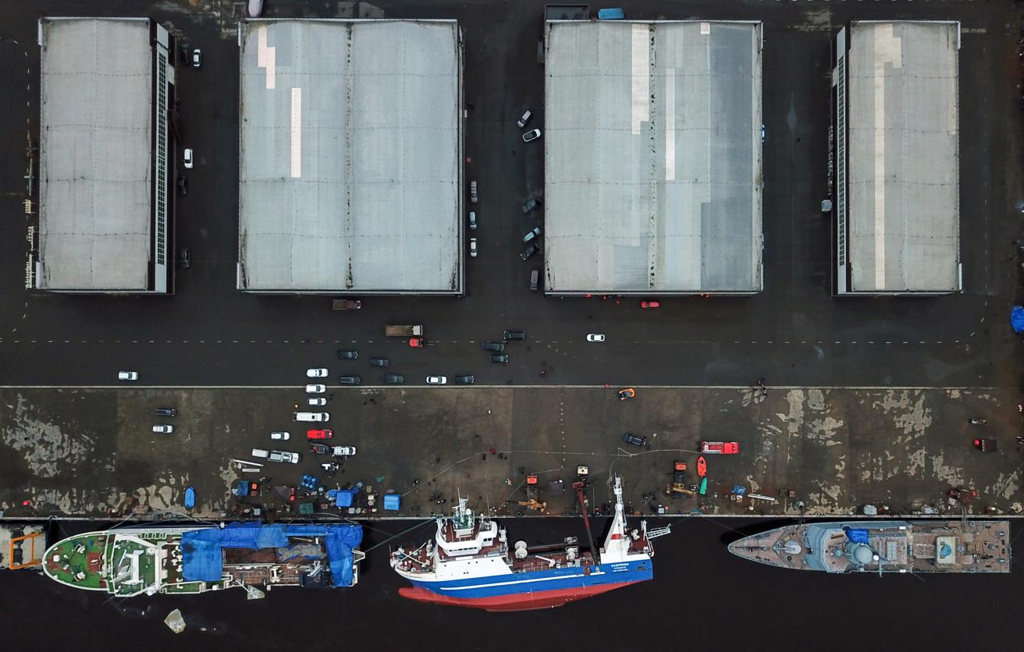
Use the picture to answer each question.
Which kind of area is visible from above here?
industrial area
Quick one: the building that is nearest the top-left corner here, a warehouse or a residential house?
warehouse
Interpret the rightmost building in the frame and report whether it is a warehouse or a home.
warehouse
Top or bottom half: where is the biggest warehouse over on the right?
top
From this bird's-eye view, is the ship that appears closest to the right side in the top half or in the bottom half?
bottom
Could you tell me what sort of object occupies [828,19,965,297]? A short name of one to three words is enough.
warehouse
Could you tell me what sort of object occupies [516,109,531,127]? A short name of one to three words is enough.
car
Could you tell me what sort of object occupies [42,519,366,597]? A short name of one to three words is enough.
vessel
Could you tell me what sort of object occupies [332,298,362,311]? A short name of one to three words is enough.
vehicle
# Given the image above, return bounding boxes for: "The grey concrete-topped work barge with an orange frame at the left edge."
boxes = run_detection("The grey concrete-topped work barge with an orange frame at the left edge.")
[0,524,48,570]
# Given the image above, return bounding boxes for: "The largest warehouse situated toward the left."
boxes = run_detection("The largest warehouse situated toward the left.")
[234,17,466,297]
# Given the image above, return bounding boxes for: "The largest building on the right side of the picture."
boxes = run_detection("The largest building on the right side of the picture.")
[541,19,766,297]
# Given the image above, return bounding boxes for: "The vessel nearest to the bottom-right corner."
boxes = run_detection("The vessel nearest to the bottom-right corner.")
[729,520,1012,578]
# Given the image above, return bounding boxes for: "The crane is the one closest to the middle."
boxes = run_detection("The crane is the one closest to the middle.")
[489,473,544,511]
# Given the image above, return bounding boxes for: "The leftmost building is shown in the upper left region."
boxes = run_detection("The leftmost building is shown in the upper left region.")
[32,16,177,295]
